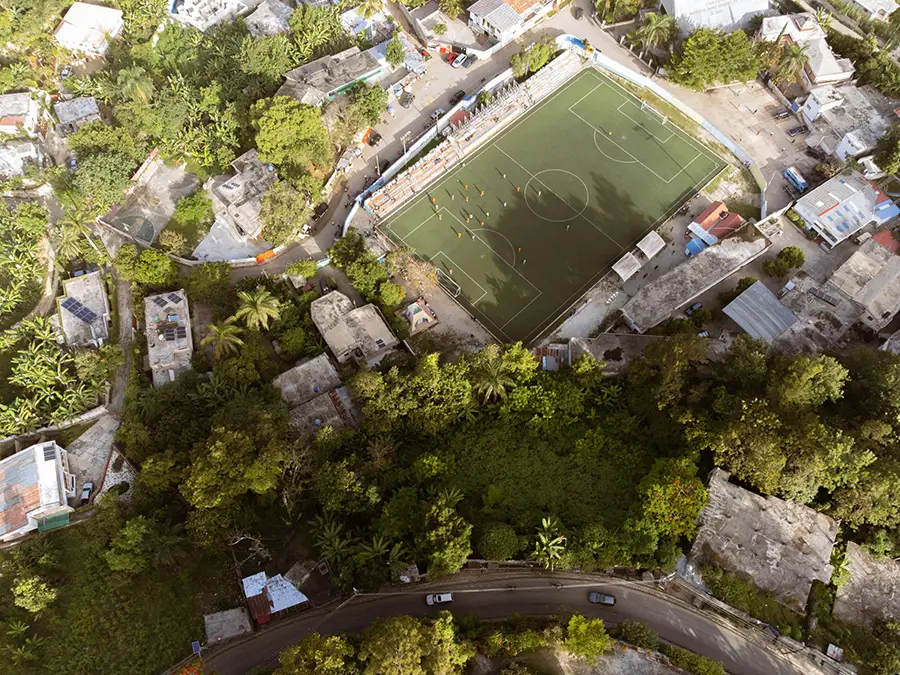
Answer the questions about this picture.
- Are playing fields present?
Yes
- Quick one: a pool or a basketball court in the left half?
basketball court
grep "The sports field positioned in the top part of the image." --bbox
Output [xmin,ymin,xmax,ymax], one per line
[377,63,731,350]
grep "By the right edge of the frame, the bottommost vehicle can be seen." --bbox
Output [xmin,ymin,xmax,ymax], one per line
[853,232,873,248]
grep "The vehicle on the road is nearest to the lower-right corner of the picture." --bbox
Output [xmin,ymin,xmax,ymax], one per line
[589,592,615,606]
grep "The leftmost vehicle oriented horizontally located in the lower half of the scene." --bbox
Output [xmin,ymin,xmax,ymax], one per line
[425,593,454,606]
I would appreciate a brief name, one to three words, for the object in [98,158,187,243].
basketball court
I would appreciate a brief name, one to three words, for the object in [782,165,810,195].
bus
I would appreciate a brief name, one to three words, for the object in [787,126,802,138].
vehicle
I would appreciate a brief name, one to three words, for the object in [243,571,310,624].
shed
